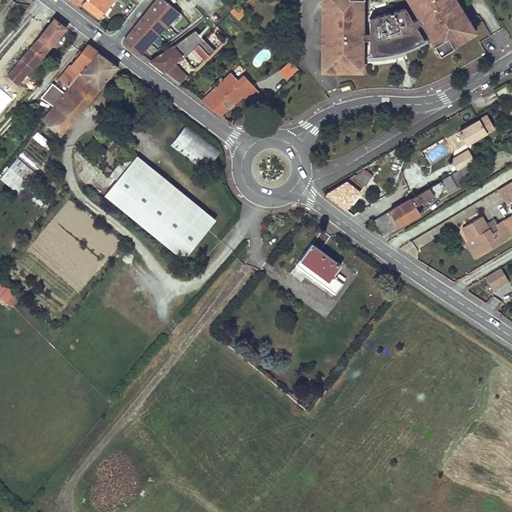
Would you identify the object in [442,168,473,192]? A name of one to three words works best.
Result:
shed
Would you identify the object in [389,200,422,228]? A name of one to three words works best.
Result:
house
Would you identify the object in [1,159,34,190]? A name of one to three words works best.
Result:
barn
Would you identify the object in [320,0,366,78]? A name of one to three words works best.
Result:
building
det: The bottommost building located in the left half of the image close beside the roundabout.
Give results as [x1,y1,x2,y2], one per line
[105,157,216,260]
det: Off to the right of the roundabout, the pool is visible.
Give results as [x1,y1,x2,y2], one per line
[424,141,450,166]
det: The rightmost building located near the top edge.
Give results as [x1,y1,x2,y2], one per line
[404,0,479,62]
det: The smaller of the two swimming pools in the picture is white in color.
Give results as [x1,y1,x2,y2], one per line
[254,50,270,67]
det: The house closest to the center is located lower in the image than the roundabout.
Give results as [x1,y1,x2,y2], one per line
[291,246,346,293]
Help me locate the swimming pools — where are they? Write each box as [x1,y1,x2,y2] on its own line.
[424,141,450,166]
[254,50,270,67]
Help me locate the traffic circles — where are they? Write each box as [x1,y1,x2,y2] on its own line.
[232,130,311,207]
